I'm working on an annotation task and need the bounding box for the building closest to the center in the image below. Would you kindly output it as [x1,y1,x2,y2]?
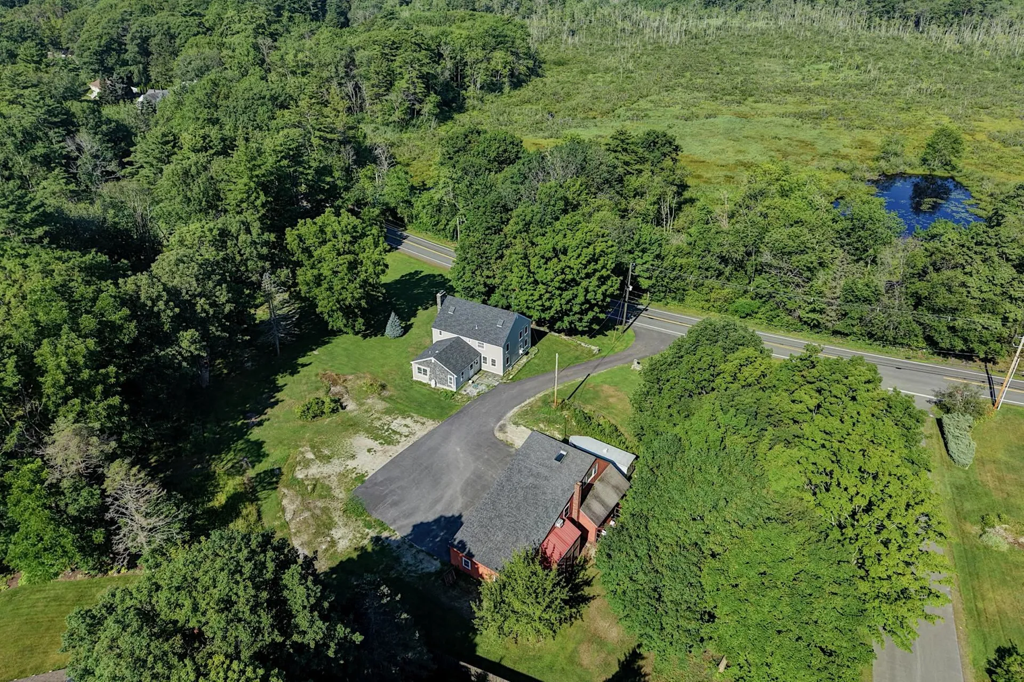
[410,288,532,391]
